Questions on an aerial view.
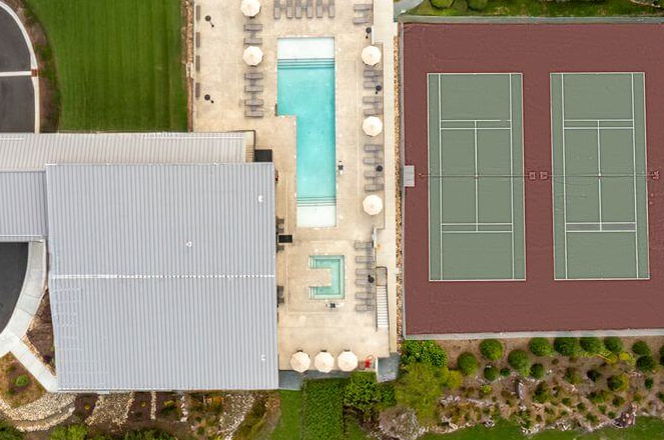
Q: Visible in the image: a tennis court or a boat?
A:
tennis court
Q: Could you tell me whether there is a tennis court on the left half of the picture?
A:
No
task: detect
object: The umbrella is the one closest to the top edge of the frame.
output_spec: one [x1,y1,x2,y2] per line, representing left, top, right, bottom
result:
[241,0,261,17]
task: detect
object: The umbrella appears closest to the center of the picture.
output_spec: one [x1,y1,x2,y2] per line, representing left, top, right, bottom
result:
[363,195,383,215]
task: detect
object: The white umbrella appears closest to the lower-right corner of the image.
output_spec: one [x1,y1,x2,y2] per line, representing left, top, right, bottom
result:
[338,351,357,371]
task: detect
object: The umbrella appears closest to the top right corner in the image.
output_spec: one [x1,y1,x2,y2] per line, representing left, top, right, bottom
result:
[361,45,381,65]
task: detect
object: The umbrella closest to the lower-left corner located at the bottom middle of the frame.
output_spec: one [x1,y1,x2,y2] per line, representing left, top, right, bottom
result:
[291,352,310,372]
